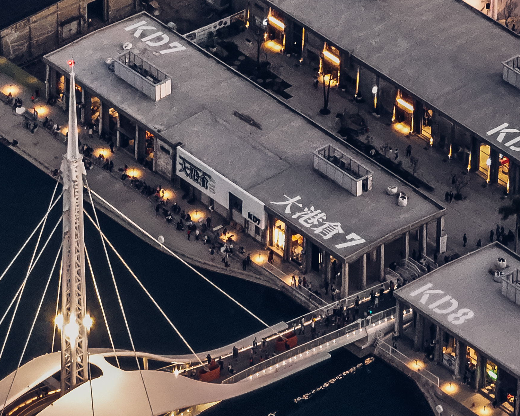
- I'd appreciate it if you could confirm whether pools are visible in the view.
No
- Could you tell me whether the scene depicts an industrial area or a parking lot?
industrial area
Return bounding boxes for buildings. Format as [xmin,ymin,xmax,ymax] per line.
[44,9,447,291]
[229,0,520,196]
[395,239,520,410]
[0,0,148,64]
